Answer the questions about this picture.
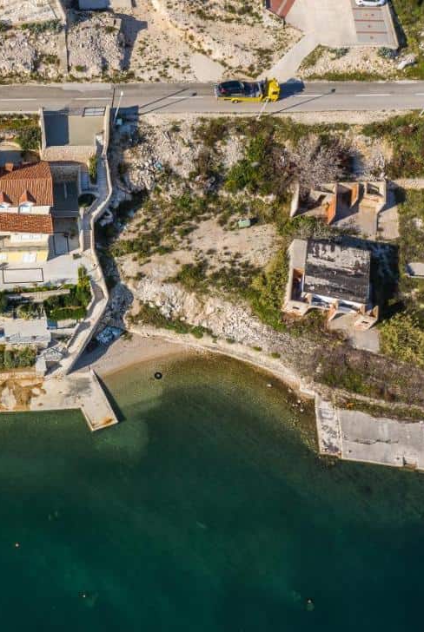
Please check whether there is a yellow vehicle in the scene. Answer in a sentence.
Yes, there's a yellow vehicle here.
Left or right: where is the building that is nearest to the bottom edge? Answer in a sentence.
The building that is nearest to the bottom edge appears in the left half of the scene.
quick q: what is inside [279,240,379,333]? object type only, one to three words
house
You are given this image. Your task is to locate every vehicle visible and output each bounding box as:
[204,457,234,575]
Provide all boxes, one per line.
[356,0,387,8]
[216,81,279,103]
[220,81,253,98]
